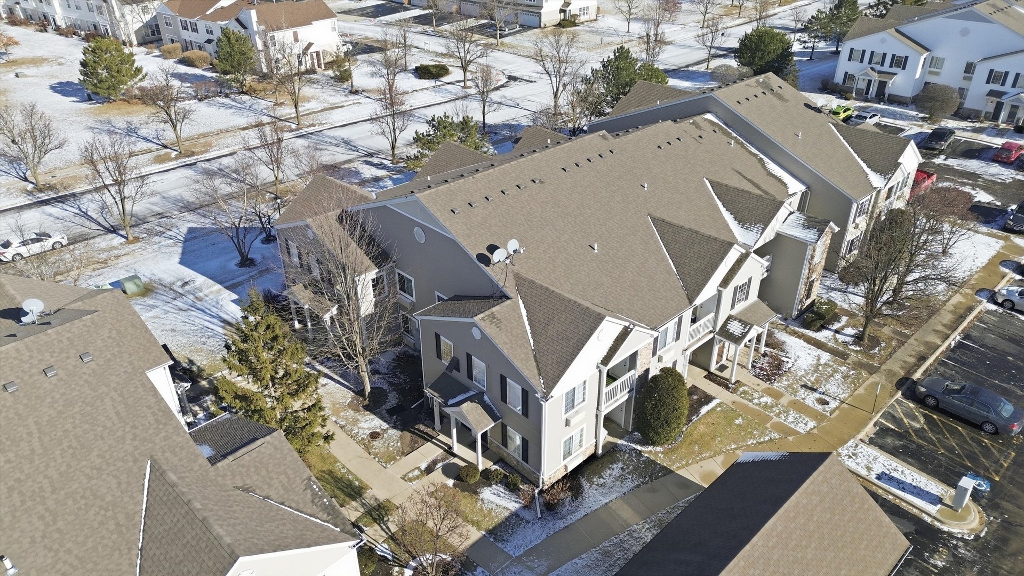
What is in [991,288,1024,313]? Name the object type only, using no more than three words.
car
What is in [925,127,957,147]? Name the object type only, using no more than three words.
car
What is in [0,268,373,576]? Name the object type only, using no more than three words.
building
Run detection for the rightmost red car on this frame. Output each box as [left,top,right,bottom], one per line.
[997,139,1024,162]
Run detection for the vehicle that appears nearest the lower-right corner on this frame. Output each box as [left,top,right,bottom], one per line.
[921,380,1024,438]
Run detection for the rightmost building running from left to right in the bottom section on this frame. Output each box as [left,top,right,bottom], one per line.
[606,450,916,576]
